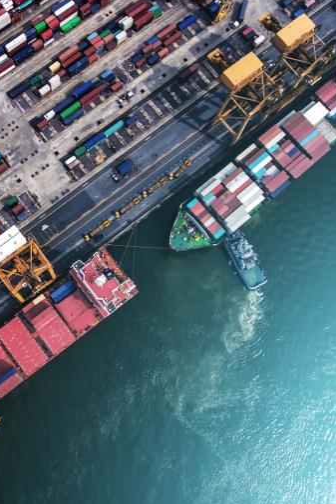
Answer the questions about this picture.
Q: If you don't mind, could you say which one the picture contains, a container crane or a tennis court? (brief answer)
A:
container crane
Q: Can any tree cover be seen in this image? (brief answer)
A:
No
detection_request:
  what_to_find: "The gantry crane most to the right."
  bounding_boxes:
[255,13,336,111]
